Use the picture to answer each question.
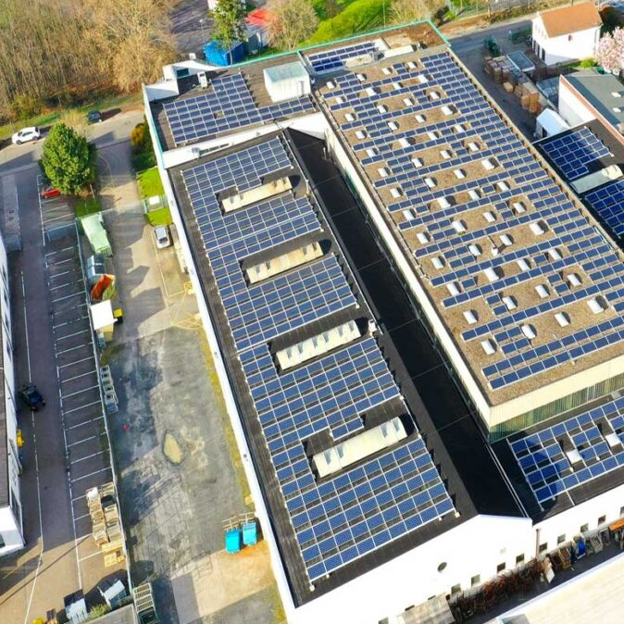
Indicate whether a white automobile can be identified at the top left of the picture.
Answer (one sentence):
Yes, a white automobile appears at the top left of the picture.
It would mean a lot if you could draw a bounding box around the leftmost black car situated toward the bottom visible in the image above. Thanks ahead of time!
[16,380,48,409]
